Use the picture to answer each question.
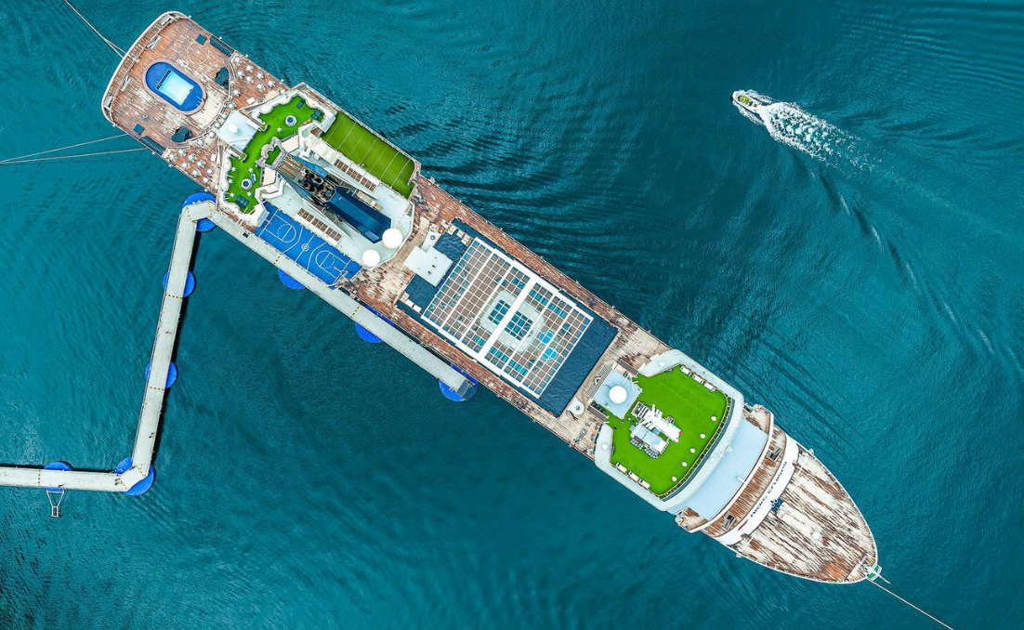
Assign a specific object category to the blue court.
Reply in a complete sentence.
Specifically, the blue court is a basketball court.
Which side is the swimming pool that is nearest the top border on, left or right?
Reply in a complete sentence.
It is on the left.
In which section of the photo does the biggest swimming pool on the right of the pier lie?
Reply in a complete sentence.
The biggest swimming pool on the right of the pier sits in the center section of the image.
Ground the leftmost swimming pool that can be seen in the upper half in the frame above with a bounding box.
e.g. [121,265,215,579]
[146,60,206,113]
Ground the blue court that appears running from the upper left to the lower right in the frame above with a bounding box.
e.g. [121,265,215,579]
[254,205,364,290]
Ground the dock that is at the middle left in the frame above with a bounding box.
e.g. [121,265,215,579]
[0,192,478,517]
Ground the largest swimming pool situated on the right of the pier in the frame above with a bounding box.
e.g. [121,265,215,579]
[486,299,535,342]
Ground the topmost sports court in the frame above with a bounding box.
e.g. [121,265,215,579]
[322,108,421,199]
